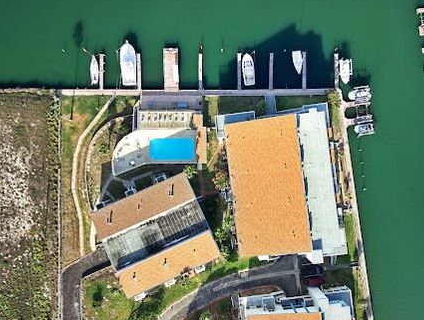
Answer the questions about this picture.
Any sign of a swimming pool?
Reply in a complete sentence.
Yes, you can see a swimming pool in this photo.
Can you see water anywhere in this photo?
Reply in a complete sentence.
Yes, water can be seen from above here.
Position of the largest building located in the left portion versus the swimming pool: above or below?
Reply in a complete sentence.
The position of the largest building located in the left portion is below the swimming pool.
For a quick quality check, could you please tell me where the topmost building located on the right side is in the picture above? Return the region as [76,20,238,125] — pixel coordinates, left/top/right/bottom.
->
[215,101,349,267]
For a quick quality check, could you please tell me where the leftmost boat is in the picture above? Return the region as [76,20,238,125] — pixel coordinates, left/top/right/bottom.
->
[82,54,100,85]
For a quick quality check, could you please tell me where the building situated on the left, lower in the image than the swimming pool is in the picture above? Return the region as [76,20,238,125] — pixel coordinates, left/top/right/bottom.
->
[90,171,221,298]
